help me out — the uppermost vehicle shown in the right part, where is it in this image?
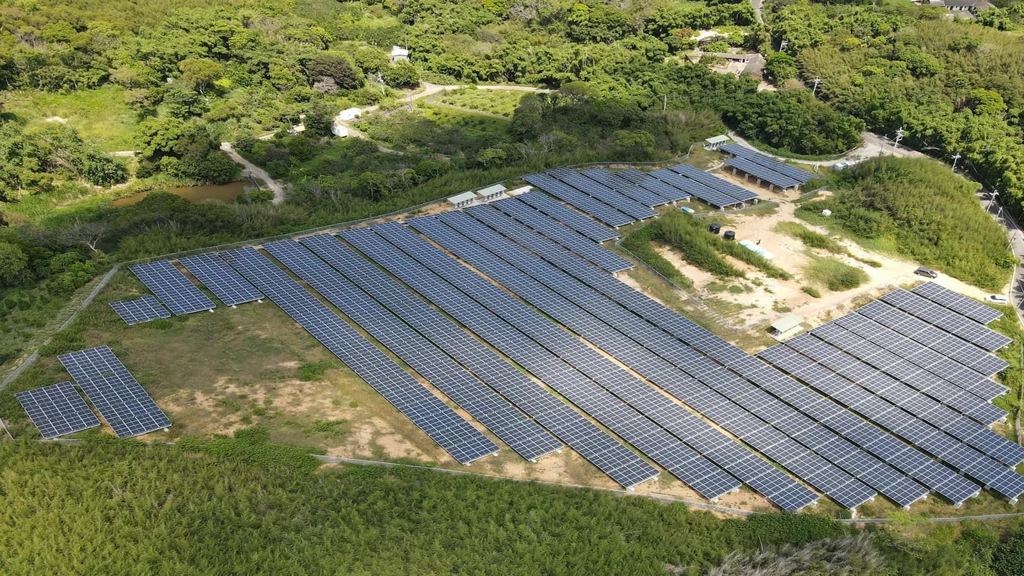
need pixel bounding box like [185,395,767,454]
[915,266,938,279]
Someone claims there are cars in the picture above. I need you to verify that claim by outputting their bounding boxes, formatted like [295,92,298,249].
[984,294,1010,305]
[915,266,938,279]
